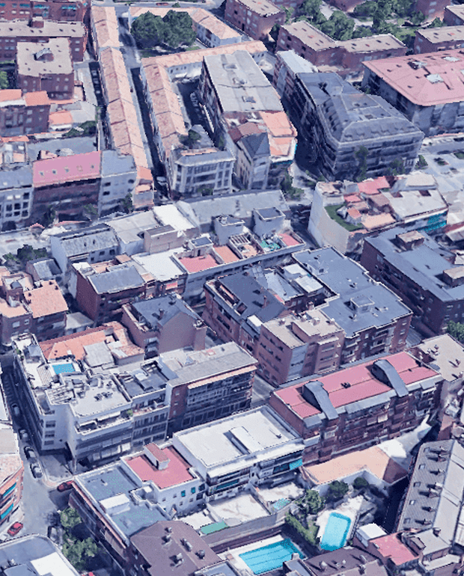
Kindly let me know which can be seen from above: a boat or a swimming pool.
swimming pool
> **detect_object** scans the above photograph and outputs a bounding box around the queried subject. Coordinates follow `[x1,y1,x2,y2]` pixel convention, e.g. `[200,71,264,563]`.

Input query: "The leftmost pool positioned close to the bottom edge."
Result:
[236,536,309,576]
